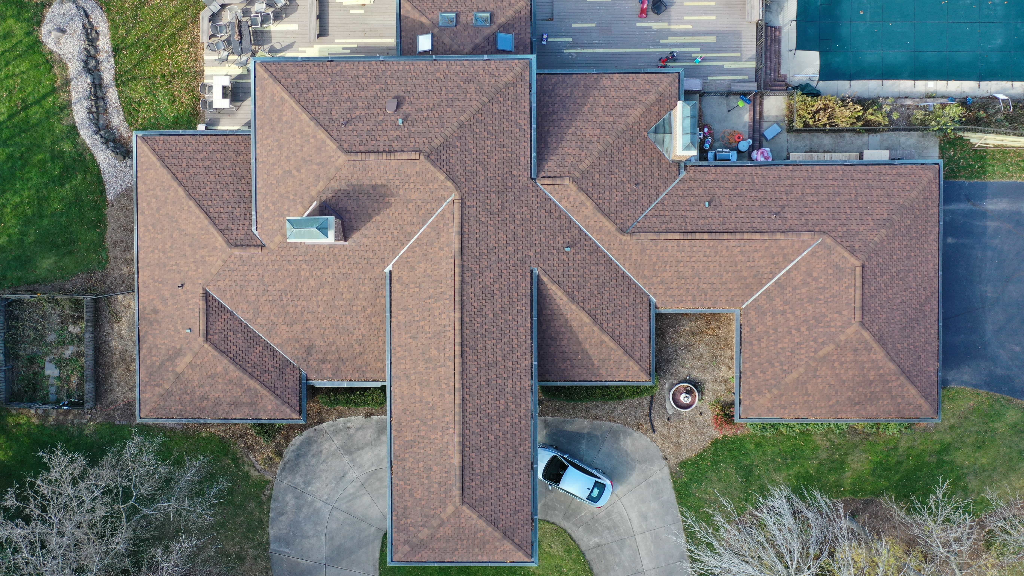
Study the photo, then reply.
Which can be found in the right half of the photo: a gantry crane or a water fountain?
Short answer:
water fountain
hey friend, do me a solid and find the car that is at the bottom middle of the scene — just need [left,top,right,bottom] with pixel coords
[537,443,615,507]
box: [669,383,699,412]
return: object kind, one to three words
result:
fountain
